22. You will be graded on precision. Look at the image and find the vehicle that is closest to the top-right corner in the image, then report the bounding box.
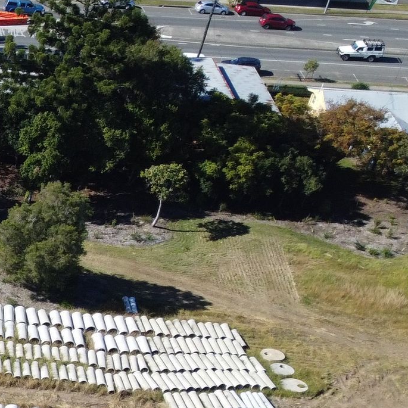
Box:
[260,11,298,30]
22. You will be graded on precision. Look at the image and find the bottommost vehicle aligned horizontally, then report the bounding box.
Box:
[224,53,264,70]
